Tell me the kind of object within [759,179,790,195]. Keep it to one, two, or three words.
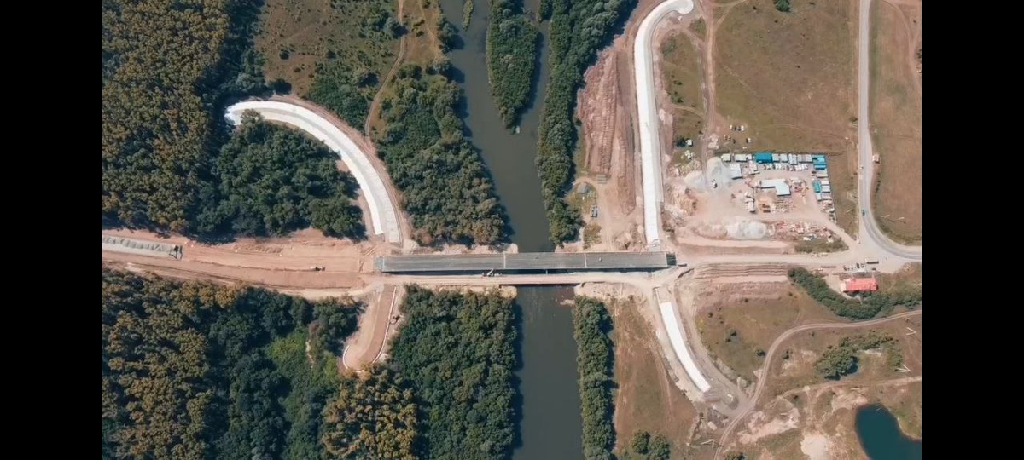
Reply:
building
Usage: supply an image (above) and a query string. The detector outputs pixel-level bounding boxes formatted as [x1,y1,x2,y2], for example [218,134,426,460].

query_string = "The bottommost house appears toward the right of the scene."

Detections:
[841,278,881,292]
